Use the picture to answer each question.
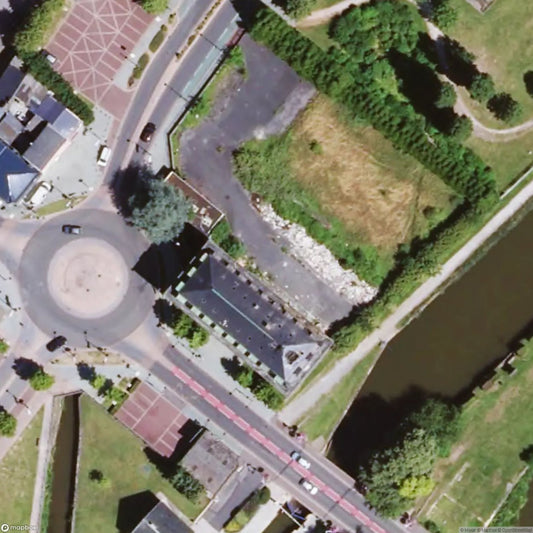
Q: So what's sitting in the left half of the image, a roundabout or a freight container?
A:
roundabout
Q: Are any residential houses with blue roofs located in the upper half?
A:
Yes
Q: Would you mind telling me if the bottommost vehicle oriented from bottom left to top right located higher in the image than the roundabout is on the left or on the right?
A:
left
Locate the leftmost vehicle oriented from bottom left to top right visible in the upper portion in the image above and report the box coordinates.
[29,183,48,206]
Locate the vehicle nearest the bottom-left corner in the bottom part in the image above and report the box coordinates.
[47,336,66,350]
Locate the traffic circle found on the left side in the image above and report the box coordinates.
[19,210,156,347]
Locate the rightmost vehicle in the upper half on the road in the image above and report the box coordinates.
[141,121,155,139]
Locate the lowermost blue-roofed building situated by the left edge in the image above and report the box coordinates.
[0,138,39,204]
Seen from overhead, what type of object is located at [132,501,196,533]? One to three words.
house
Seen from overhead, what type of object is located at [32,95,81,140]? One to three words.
house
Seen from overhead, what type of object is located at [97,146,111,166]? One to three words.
vehicle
